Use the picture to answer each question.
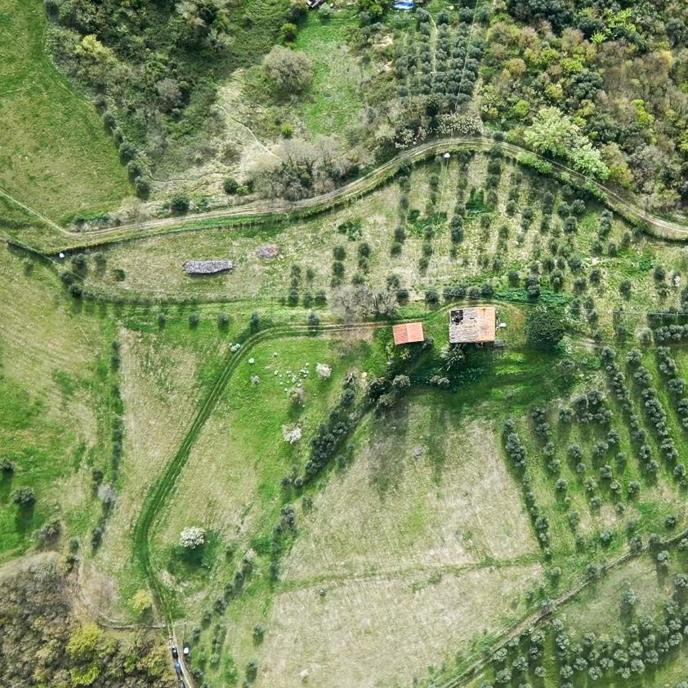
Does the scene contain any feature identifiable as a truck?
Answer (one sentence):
No, this view has no truck in it.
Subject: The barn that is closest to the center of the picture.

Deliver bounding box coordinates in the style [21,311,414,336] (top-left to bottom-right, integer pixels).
[393,319,424,345]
